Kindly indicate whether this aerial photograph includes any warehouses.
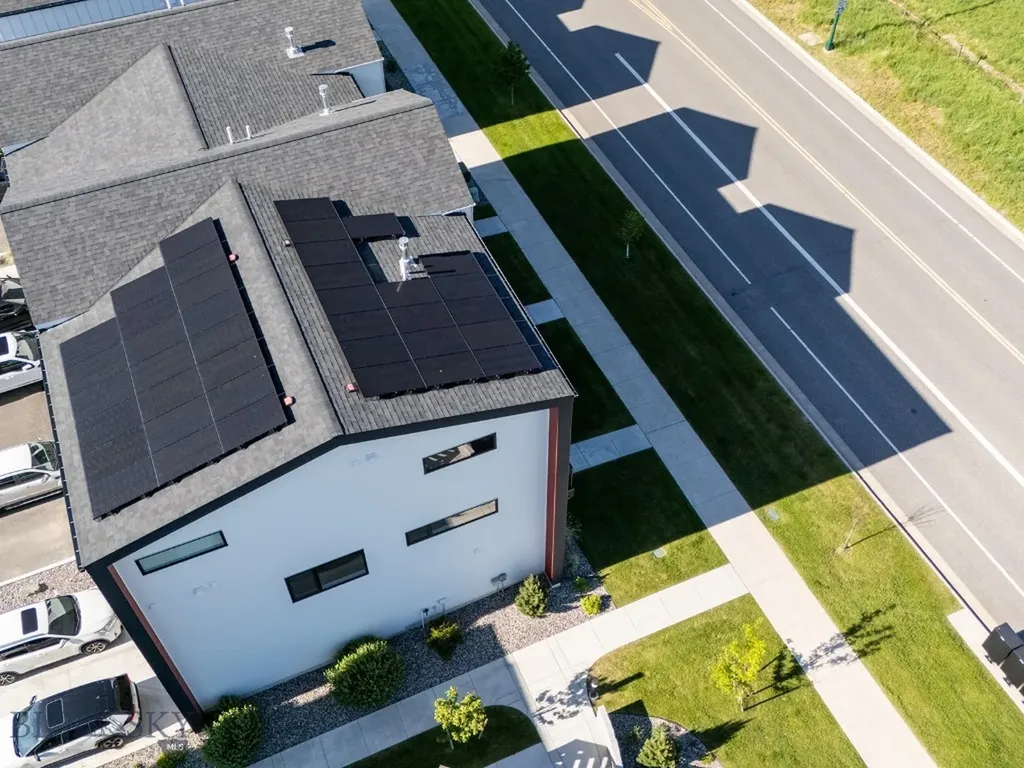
No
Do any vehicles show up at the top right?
No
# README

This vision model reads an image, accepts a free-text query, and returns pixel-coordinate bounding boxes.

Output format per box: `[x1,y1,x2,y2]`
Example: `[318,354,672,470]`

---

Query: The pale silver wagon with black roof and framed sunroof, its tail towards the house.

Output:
[0,669,144,768]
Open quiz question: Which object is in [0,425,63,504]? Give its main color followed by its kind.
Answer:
white car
